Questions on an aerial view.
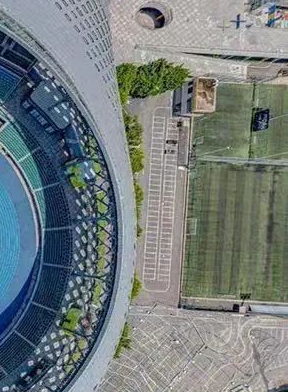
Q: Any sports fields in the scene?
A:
Yes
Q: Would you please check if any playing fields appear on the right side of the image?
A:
Yes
